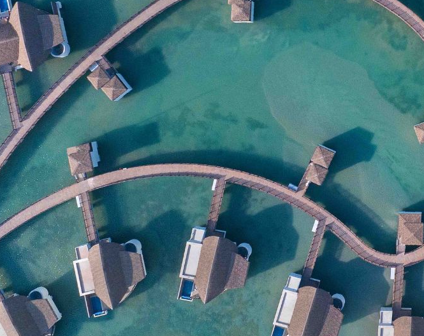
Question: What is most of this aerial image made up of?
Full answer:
The largest share of the image is taken up by water.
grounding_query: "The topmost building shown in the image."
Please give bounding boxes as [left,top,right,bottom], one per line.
[228,0,256,23]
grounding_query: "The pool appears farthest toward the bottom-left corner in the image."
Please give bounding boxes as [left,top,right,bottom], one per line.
[88,291,109,316]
